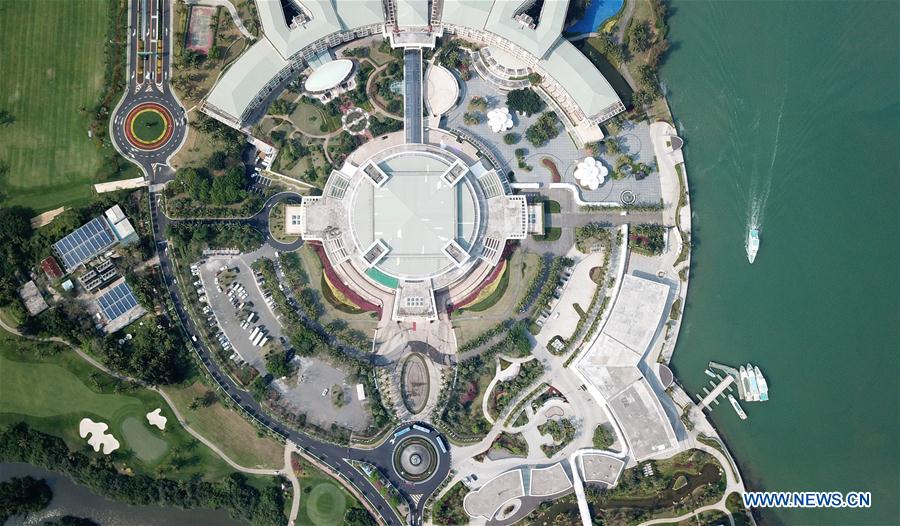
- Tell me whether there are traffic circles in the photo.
Yes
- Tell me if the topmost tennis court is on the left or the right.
left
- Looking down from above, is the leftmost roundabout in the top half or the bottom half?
top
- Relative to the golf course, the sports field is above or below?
above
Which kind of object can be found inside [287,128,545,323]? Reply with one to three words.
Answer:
building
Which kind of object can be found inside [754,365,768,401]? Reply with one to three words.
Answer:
boat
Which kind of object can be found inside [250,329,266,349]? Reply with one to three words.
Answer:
vehicle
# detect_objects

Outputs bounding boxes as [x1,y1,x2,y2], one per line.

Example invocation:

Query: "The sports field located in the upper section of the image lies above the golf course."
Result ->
[0,0,107,210]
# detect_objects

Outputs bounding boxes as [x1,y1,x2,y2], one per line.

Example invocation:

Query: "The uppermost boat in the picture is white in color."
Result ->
[747,230,759,264]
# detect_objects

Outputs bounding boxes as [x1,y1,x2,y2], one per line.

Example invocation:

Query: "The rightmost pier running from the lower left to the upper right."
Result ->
[695,372,735,412]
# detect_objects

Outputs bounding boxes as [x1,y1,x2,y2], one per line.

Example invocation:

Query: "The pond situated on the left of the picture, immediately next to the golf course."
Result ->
[0,462,256,526]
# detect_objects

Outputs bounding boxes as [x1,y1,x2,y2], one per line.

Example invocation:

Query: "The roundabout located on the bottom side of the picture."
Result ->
[343,421,452,526]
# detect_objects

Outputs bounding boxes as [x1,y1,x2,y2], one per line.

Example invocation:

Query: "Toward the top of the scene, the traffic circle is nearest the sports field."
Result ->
[110,83,190,213]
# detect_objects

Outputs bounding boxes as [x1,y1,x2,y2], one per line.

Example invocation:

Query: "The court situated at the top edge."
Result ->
[183,4,216,54]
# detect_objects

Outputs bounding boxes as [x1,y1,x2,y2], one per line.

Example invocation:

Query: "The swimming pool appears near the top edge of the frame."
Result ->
[564,0,628,33]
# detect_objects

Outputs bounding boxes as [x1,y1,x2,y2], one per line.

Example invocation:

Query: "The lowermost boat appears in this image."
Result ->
[729,394,747,421]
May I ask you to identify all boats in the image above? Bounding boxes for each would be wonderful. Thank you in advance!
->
[740,365,751,401]
[747,230,759,264]
[729,394,747,421]
[747,362,758,401]
[754,365,768,401]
